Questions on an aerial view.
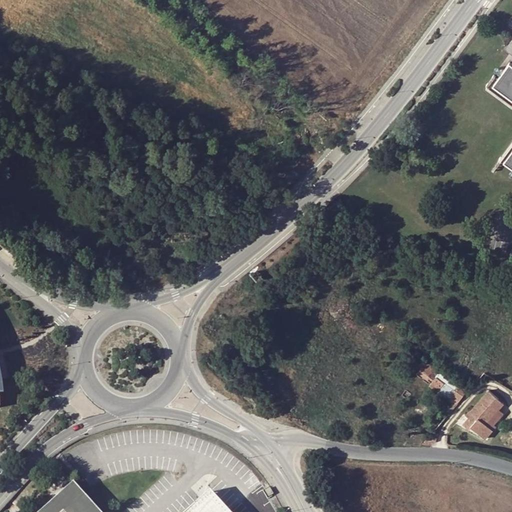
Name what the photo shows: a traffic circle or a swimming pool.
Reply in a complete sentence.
The image shows a traffic circle.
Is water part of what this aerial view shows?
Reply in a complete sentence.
No, no water is visible.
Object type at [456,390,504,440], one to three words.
house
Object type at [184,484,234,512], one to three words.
building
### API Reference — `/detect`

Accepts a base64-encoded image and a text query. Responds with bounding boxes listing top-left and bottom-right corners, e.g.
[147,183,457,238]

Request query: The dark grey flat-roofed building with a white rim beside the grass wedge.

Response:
[36,479,106,512]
